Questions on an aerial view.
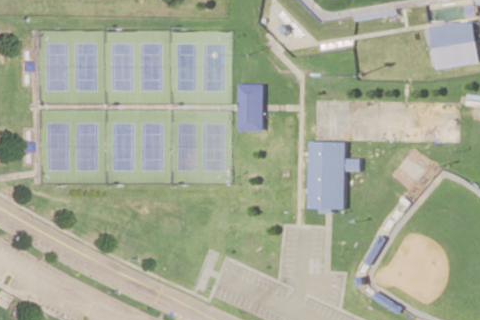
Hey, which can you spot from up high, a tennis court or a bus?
tennis court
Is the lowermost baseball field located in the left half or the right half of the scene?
right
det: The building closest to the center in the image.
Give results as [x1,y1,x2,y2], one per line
[236,84,265,132]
